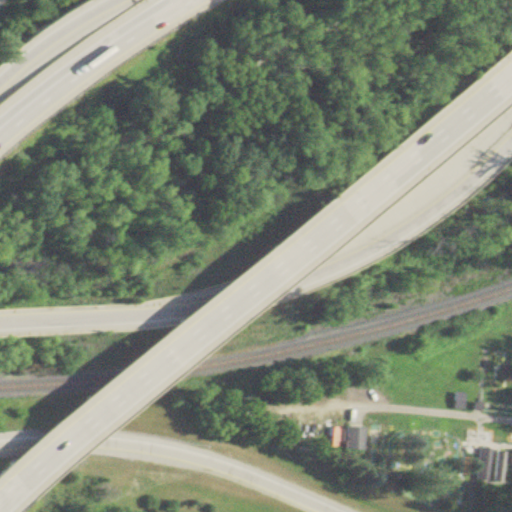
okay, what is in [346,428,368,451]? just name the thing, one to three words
house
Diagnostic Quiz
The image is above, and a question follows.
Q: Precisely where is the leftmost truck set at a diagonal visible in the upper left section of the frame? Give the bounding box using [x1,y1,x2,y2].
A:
[78,44,120,74]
